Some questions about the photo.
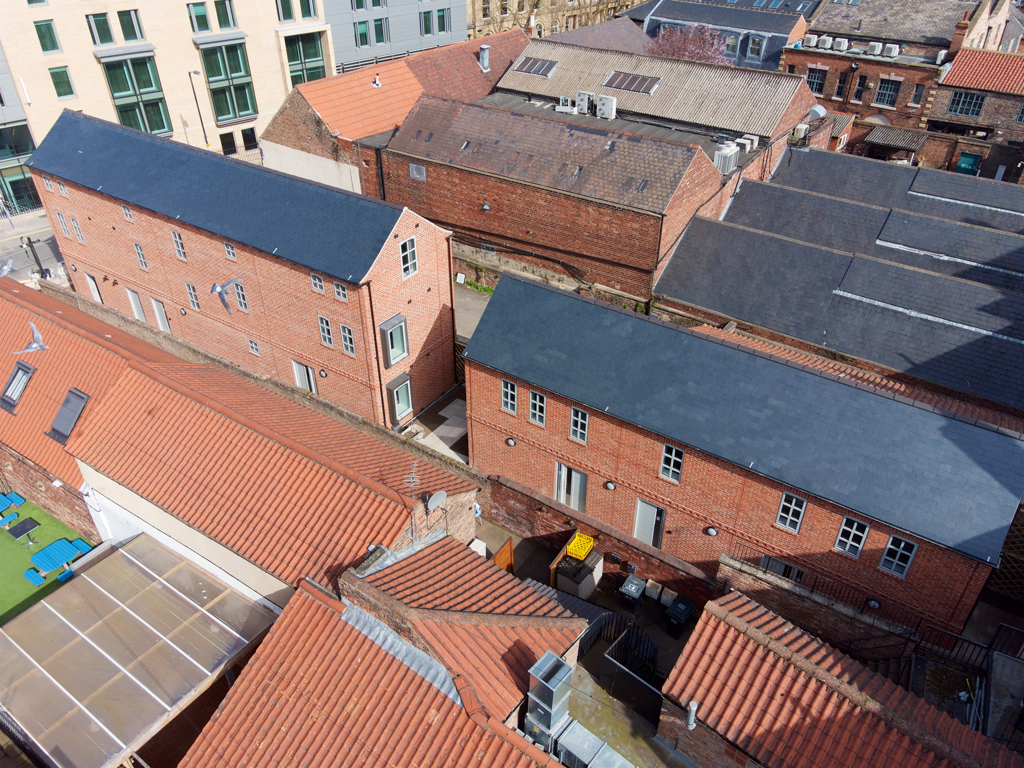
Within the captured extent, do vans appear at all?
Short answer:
No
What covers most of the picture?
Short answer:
buildings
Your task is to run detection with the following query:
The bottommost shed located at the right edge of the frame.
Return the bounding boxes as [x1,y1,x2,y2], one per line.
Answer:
[657,589,1024,768]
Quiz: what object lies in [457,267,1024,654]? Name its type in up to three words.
house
